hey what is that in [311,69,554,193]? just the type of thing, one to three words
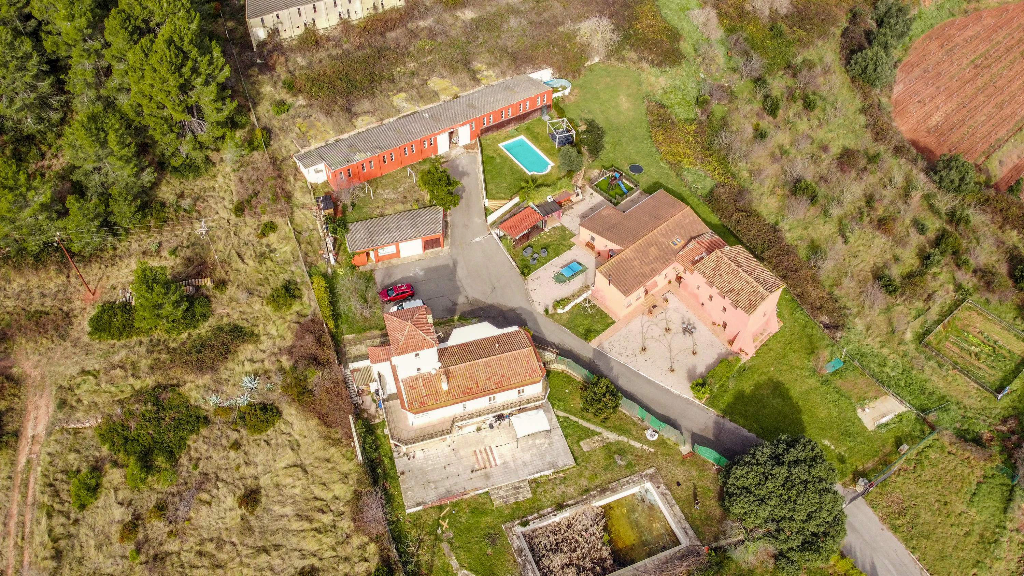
building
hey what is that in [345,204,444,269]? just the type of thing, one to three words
building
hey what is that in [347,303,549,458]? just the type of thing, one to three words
house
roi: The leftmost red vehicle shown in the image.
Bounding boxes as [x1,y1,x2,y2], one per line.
[379,282,416,305]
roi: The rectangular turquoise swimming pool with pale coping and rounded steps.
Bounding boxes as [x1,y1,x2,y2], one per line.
[500,135,553,175]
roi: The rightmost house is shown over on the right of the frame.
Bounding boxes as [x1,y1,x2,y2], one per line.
[577,188,789,359]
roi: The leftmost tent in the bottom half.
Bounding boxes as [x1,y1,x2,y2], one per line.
[509,408,551,441]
